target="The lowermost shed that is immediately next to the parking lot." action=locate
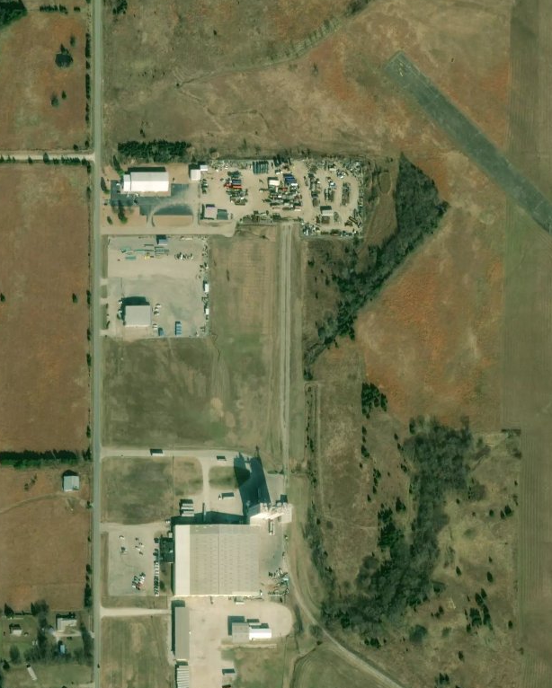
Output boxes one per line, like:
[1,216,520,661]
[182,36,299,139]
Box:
[174,607,189,660]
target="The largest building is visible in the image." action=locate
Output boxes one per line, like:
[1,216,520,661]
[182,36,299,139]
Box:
[173,525,260,596]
